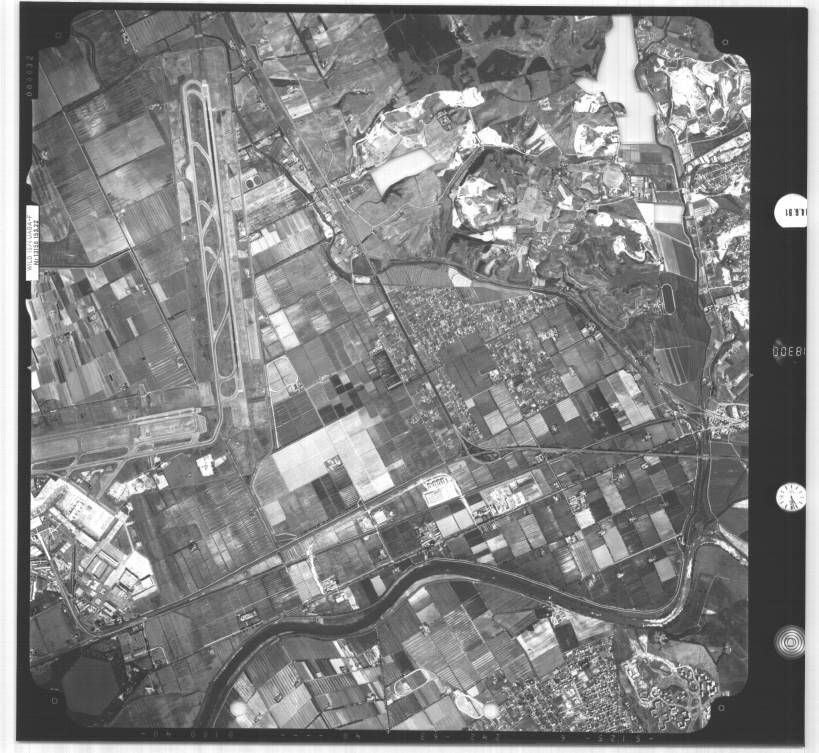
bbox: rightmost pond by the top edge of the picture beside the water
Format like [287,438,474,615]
[575,0,657,143]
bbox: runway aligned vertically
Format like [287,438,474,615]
[202,83,246,394]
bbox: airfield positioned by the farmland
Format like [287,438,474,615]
[0,79,270,601]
